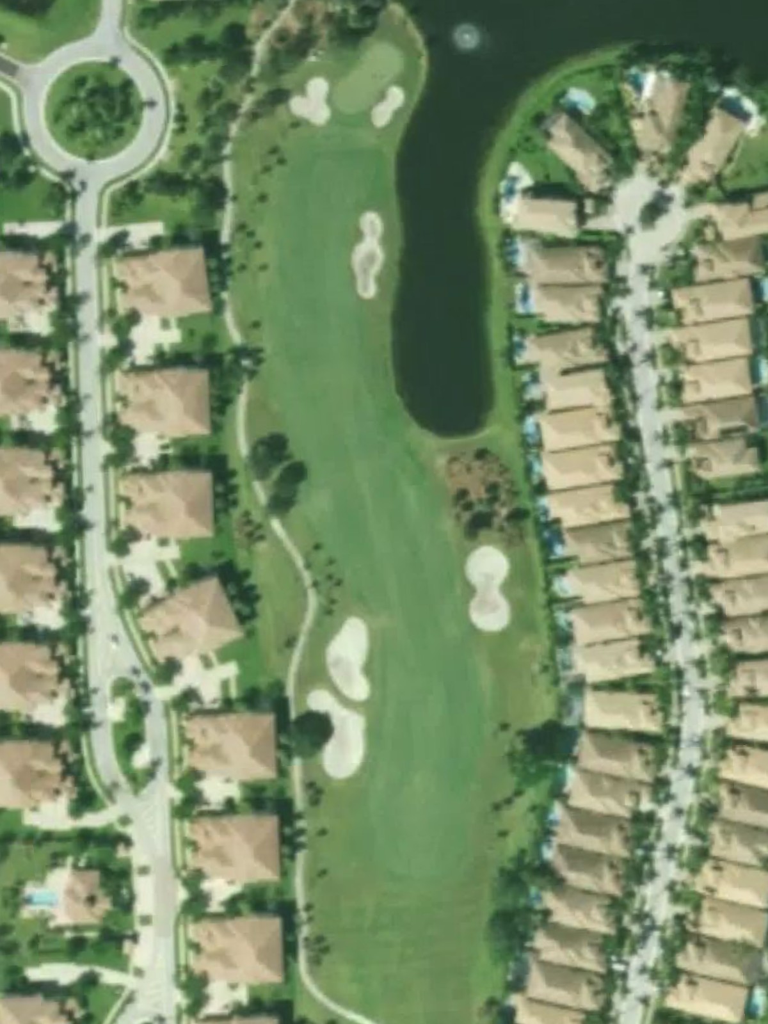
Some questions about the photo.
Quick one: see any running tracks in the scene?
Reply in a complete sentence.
No, there is no running track in the image.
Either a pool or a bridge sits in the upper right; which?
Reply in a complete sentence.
There is a pool in the upper right.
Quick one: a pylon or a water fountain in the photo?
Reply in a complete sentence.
The image shows a water fountain.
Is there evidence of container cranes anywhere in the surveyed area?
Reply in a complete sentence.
No, I find no container crane anywhere in the image.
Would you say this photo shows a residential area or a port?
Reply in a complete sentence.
The area seen from above is a residential area.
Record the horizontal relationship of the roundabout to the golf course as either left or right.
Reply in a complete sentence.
The golf course has the roundabout on its left side.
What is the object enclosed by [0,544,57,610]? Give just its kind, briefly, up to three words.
house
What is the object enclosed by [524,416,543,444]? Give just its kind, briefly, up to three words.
swimming pool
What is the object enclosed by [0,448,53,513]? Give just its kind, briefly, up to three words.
house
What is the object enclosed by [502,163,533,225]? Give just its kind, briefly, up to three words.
swimming pool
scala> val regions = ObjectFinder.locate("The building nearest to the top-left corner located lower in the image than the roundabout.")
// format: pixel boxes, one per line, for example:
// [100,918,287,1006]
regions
[0,252,49,317]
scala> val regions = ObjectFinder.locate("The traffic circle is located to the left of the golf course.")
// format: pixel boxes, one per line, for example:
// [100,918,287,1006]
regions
[22,0,163,194]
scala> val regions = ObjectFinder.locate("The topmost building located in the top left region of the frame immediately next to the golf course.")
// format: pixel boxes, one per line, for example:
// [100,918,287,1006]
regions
[121,246,209,312]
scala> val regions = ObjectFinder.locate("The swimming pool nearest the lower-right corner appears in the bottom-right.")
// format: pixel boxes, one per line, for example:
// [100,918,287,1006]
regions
[748,986,768,1023]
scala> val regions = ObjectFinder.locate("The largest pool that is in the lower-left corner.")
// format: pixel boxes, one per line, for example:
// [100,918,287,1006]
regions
[23,868,66,927]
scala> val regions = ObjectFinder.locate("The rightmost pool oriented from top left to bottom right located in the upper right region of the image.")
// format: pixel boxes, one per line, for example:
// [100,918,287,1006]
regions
[719,88,763,135]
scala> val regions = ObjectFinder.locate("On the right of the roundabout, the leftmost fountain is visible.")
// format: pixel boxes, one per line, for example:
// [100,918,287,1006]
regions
[451,21,482,53]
